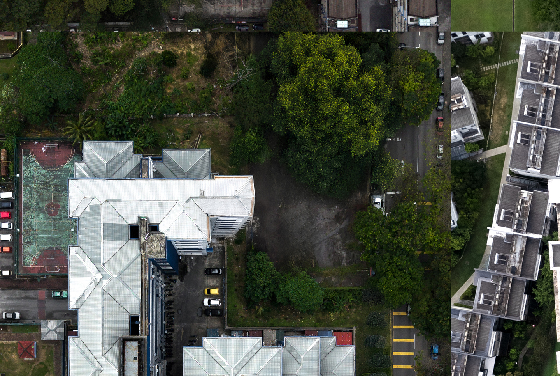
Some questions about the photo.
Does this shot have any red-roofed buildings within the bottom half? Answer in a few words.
Yes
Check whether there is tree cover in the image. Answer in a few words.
Yes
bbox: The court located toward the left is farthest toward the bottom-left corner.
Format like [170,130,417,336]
[23,153,82,266]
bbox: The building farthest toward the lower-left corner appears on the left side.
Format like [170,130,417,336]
[17,338,39,359]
